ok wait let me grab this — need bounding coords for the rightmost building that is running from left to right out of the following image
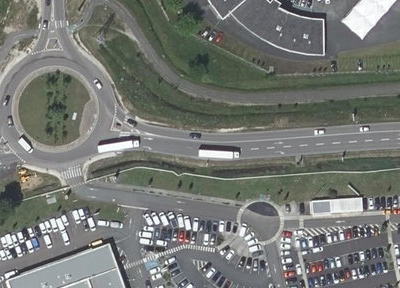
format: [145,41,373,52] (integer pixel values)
[310,197,364,215]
